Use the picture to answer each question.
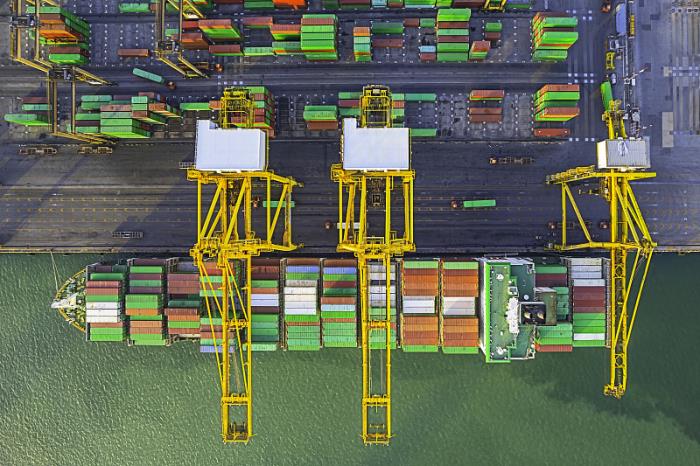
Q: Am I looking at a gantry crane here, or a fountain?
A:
gantry crane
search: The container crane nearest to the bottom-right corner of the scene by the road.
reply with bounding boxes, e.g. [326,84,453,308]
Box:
[538,105,657,401]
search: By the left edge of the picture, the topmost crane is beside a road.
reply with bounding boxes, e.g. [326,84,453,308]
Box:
[12,0,88,82]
